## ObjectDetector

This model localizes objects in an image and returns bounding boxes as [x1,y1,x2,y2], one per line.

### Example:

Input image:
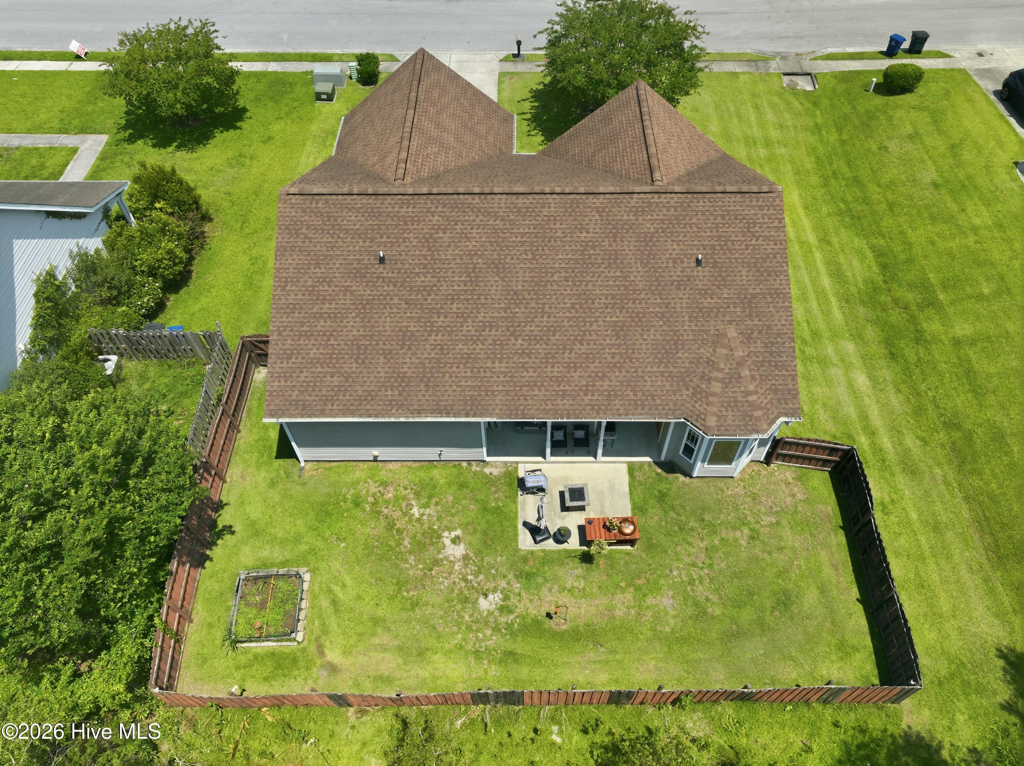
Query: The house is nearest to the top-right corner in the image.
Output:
[262,44,801,477]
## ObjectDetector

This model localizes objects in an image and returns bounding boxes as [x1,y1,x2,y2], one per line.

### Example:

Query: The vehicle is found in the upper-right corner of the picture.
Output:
[1002,67,1024,112]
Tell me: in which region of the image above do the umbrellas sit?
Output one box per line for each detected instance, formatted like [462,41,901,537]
[529,498,554,546]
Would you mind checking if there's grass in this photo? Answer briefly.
Yes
